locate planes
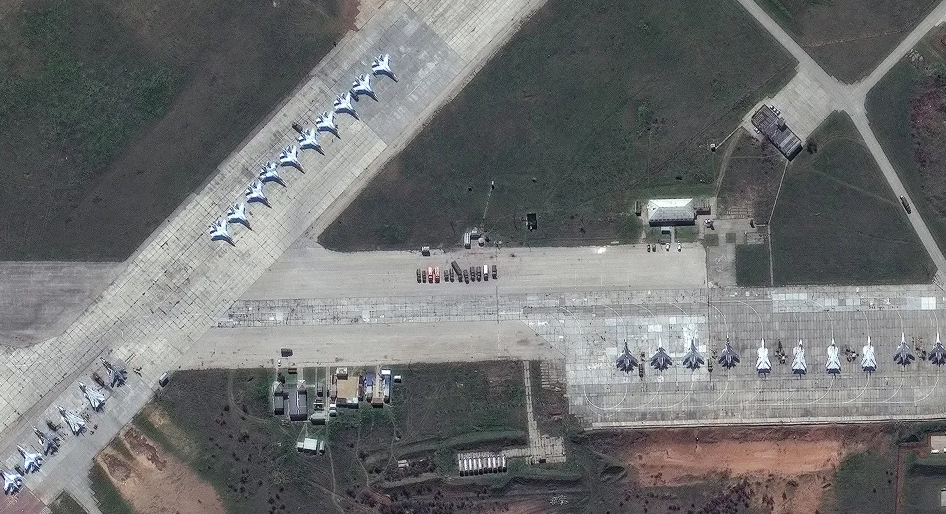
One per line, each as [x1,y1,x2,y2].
[206,215,234,242]
[826,337,841,372]
[861,335,877,369]
[18,445,43,473]
[682,338,705,369]
[224,201,251,227]
[257,157,285,184]
[649,337,672,367]
[276,144,303,170]
[928,333,946,364]
[32,426,60,455]
[756,339,770,372]
[58,407,86,434]
[615,339,637,370]
[370,53,397,80]
[892,335,915,364]
[348,70,376,97]
[102,358,128,386]
[718,335,740,365]
[793,338,808,372]
[297,126,323,152]
[331,92,358,117]
[0,471,24,497]
[243,178,271,204]
[311,109,340,135]
[79,382,106,410]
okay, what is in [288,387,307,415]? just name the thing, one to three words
building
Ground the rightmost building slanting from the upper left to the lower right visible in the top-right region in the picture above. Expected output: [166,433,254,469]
[751,105,803,158]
